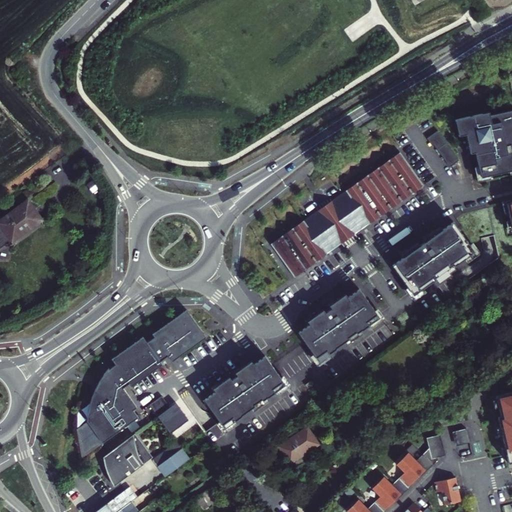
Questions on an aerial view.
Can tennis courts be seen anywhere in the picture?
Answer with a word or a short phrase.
No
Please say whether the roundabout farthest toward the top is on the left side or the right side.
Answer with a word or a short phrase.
left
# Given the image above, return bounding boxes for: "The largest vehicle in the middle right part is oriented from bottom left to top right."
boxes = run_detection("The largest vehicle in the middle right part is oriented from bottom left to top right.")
[388,228,412,246]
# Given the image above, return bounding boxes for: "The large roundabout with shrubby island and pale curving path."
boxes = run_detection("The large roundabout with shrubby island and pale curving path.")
[130,194,223,290]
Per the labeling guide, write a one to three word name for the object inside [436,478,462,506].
house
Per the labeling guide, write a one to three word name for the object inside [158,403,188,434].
building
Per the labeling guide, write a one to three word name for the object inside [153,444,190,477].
shed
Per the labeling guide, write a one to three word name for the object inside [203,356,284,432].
building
